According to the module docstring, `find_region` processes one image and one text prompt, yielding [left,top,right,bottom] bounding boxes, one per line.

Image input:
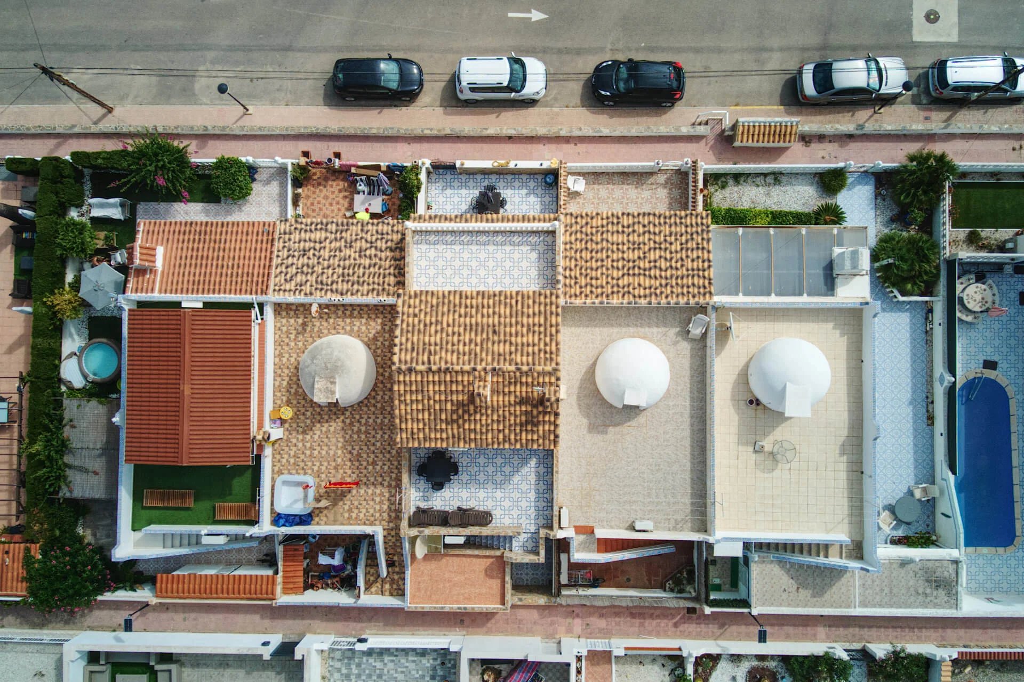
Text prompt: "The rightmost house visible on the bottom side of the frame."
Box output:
[710,302,963,616]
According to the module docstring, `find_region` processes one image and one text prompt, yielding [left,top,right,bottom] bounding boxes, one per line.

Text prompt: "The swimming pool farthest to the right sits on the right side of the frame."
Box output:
[948,376,1016,554]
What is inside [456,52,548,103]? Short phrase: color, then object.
white car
